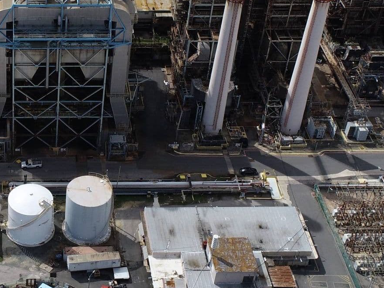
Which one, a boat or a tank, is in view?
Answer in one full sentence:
Visible in the photo is a tank.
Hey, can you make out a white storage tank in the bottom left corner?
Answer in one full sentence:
Yes, the scene does show a white storage tank in the bottom left corner.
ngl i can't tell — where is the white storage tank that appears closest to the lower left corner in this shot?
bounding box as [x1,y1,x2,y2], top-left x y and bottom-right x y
[4,185,55,246]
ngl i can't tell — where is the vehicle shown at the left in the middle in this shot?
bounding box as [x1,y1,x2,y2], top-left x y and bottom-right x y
[21,158,45,170]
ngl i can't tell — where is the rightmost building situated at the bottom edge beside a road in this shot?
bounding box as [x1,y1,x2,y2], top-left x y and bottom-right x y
[146,207,322,288]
